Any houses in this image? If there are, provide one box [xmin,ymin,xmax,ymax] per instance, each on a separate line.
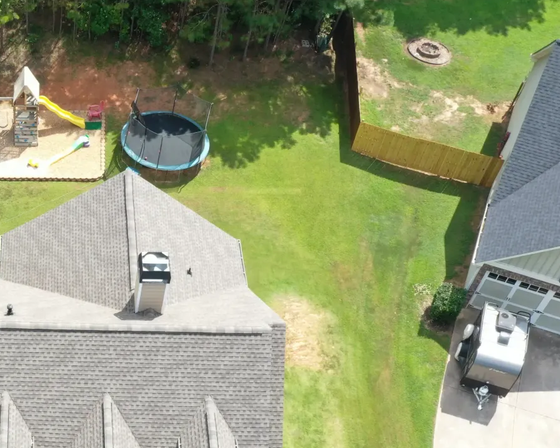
[0,169,288,448]
[462,34,560,334]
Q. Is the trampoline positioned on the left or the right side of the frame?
left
